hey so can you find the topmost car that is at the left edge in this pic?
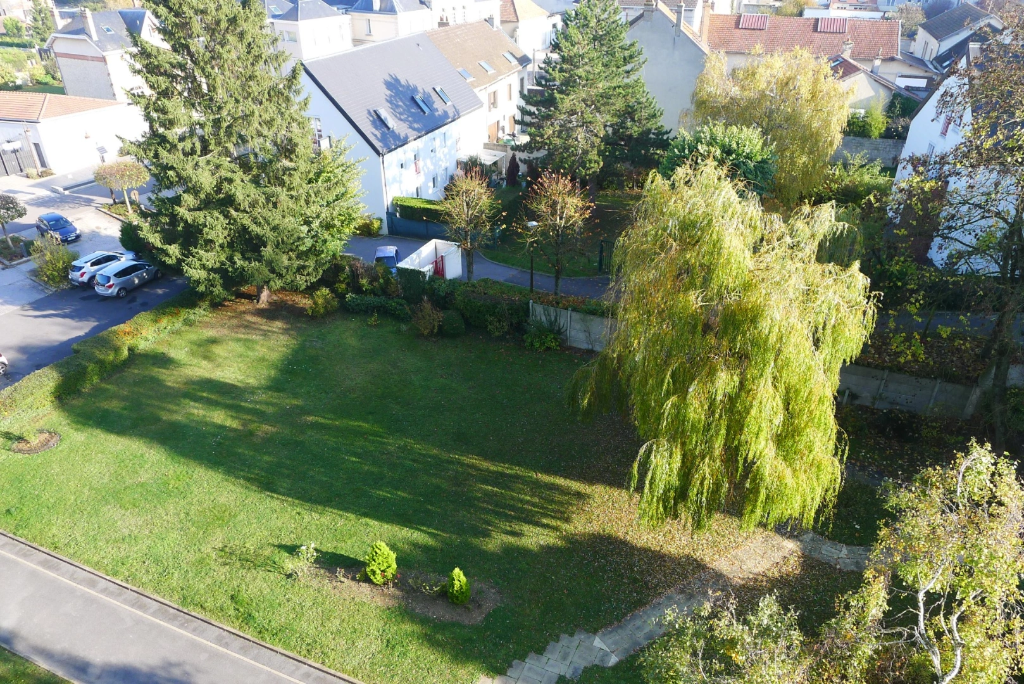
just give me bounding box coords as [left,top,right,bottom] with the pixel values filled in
[33,206,88,243]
